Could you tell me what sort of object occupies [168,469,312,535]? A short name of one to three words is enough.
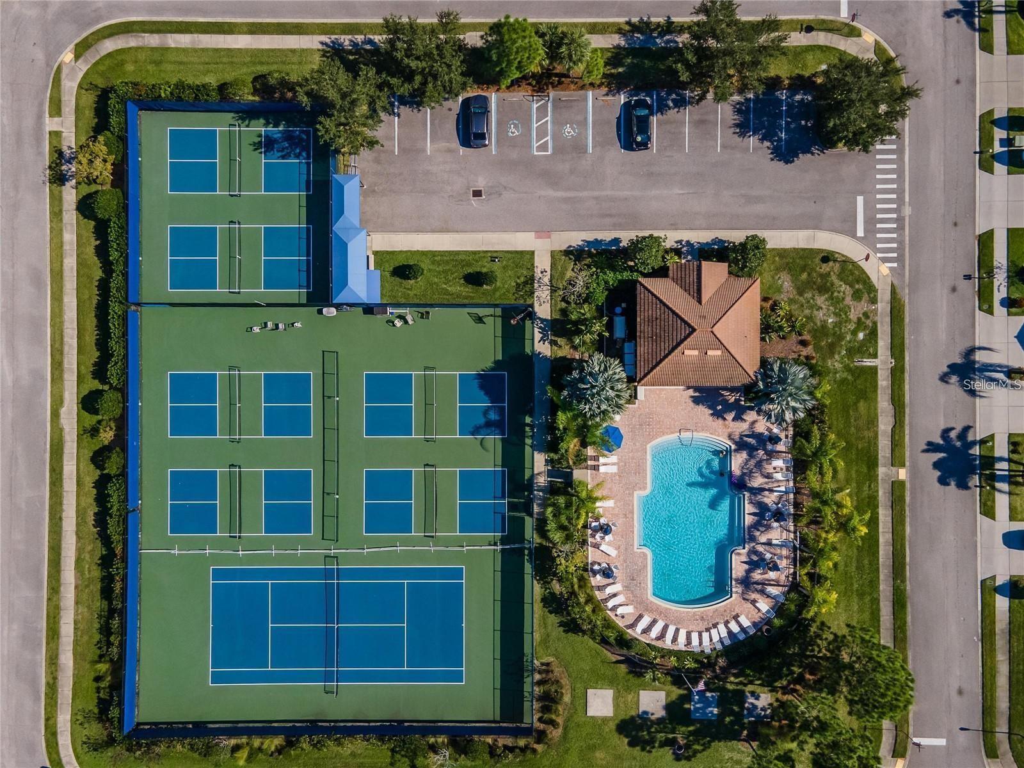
sports court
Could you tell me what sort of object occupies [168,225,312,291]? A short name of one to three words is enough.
sports court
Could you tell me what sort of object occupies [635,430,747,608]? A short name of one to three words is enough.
swimming pool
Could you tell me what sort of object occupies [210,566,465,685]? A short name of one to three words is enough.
tennis court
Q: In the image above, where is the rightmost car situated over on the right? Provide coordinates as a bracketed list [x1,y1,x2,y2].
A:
[629,98,655,153]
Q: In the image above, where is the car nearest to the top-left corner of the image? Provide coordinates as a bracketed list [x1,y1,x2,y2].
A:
[467,96,493,150]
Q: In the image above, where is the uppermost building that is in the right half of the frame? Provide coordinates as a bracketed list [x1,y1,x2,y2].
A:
[636,260,761,387]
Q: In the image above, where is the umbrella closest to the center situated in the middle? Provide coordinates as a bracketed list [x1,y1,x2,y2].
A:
[598,424,626,452]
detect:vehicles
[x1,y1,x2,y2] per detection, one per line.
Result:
[629,98,655,153]
[467,96,493,150]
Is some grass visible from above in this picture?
Yes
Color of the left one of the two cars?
black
